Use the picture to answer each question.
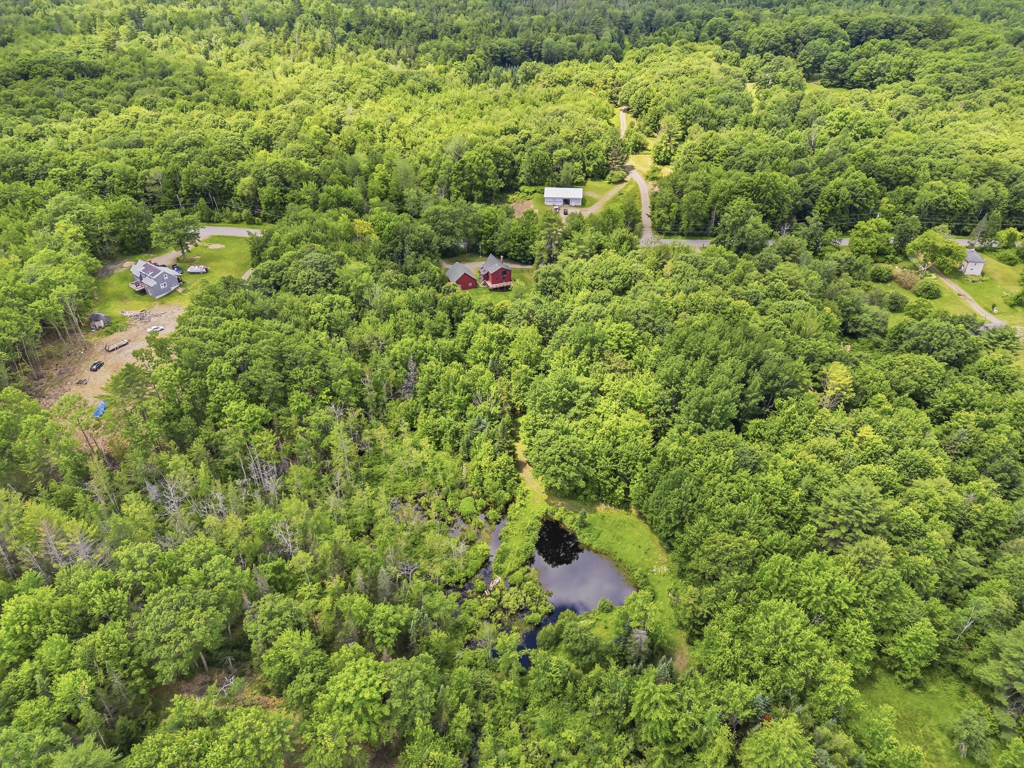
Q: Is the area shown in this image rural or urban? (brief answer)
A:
rural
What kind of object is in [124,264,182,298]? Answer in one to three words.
house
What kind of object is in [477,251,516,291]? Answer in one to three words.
house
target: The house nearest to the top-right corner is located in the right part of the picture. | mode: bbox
[952,249,988,275]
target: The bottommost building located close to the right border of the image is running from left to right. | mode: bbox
[983,316,1021,334]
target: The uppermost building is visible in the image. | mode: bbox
[544,187,583,205]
